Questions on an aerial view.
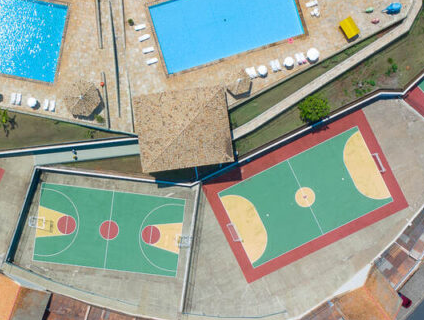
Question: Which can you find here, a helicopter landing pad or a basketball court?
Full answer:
Visible in the photo is a basketball court.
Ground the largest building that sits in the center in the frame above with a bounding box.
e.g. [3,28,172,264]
[133,86,234,173]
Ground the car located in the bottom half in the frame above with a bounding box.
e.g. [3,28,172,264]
[397,290,412,310]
